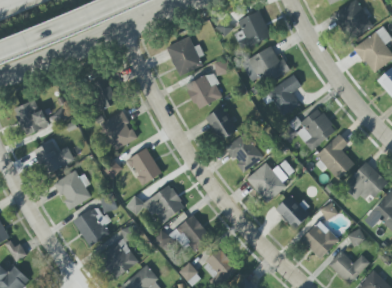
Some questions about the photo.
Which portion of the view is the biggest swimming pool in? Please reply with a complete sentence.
The biggest swimming pool is in the bottom right part of the image.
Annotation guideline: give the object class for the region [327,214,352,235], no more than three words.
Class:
swimming pool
